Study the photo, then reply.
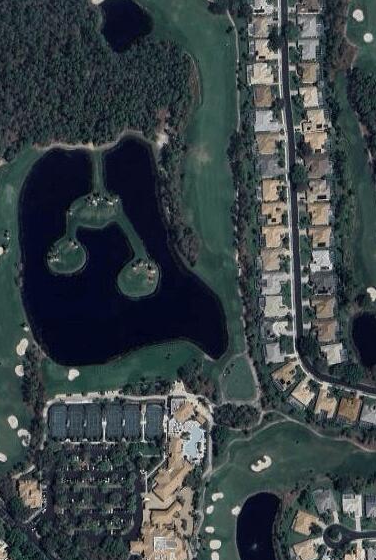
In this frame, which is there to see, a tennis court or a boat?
tennis court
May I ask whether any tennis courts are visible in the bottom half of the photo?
Yes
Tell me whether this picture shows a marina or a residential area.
residential area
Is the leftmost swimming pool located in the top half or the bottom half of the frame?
bottom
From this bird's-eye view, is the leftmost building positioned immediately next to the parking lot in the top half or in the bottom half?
bottom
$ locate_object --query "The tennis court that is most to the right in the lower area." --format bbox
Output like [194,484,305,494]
[146,404,162,439]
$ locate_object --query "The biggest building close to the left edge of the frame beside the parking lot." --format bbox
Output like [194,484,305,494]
[18,480,41,506]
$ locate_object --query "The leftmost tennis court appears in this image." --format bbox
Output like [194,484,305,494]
[48,404,67,439]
